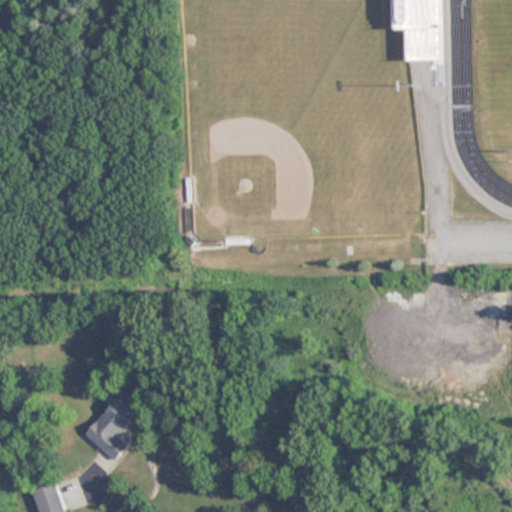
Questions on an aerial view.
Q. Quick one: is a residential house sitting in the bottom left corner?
Yes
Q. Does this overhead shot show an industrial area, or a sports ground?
sports ground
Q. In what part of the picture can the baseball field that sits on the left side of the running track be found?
top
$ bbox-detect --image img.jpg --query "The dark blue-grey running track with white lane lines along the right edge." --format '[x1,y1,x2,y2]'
[452,0,512,203]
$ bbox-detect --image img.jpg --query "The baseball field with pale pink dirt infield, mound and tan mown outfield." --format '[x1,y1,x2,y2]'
[184,0,423,238]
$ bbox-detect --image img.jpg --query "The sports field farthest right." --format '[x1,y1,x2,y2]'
[473,0,512,179]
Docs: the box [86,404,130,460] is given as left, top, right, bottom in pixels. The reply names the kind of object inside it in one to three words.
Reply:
house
